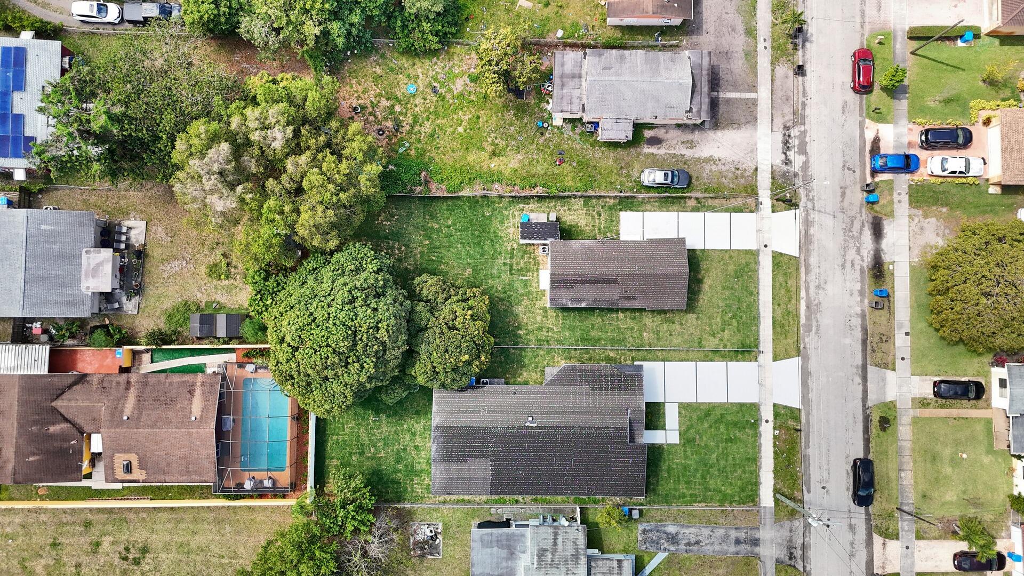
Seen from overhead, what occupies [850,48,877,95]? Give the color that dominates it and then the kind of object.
red car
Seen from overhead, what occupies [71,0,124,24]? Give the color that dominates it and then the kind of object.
white car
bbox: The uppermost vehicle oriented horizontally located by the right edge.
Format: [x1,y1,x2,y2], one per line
[918,125,974,151]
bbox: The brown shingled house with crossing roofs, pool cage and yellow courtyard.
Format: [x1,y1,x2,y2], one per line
[0,371,225,484]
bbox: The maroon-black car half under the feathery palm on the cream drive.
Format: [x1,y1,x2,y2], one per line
[953,549,1006,575]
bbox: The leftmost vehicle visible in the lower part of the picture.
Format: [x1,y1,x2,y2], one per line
[851,459,877,508]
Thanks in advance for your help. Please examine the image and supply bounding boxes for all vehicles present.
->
[71,0,124,24]
[1016,205,1024,225]
[927,154,985,179]
[918,125,974,151]
[850,48,877,95]
[953,549,1006,575]
[851,459,877,508]
[640,166,689,190]
[123,0,186,26]
[932,378,985,402]
[871,152,921,175]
